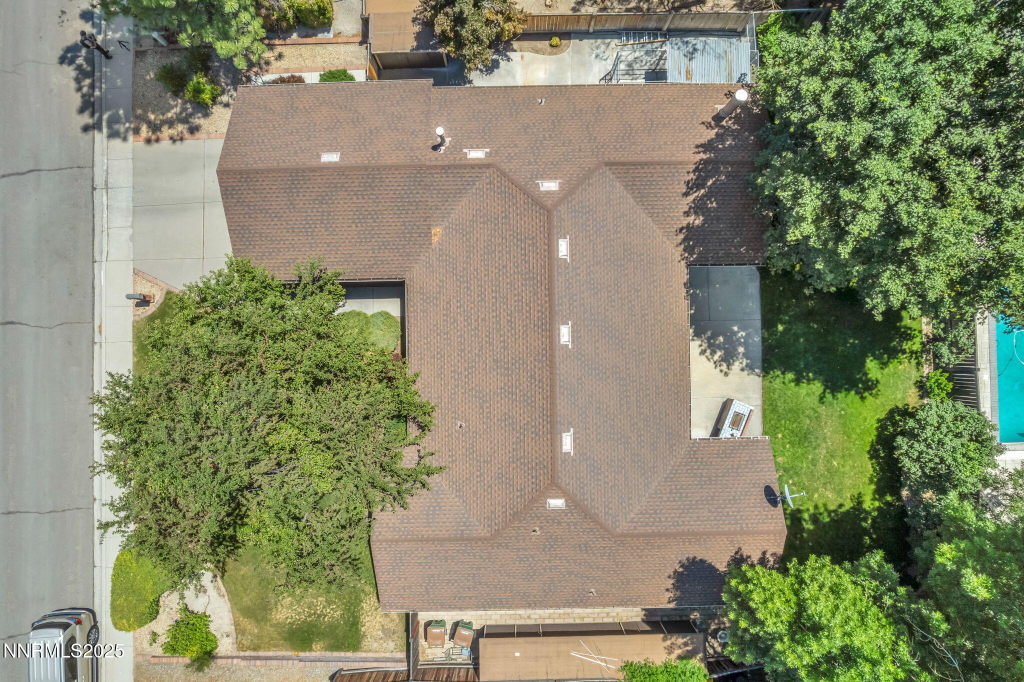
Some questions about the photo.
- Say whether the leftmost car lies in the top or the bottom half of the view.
bottom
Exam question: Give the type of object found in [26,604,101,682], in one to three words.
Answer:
car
